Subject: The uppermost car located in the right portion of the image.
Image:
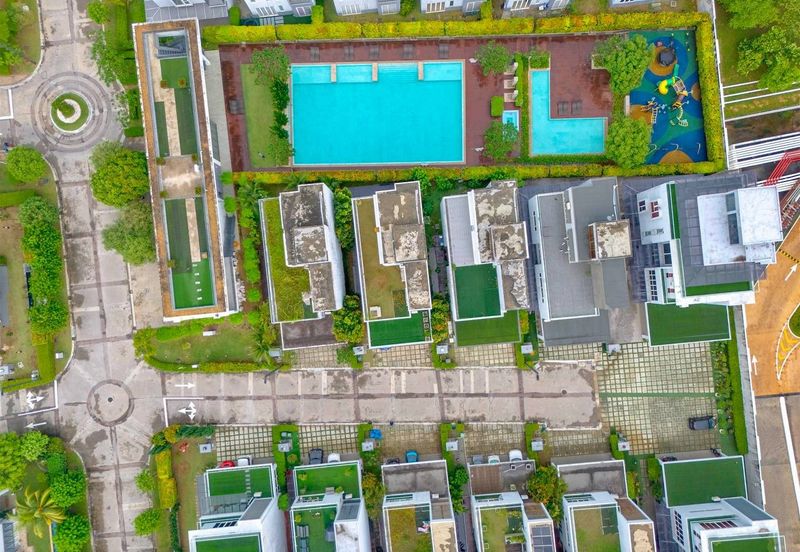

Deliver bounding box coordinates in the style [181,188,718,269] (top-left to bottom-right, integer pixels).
[688,415,716,430]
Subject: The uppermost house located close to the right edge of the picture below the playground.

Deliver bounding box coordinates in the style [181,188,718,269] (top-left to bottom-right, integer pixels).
[635,170,783,347]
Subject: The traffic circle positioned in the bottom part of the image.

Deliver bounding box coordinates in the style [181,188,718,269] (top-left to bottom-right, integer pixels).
[86,379,134,426]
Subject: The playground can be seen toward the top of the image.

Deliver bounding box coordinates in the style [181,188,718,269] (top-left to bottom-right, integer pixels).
[624,30,701,166]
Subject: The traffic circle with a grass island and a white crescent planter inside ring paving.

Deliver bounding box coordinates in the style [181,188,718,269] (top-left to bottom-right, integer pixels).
[32,73,109,149]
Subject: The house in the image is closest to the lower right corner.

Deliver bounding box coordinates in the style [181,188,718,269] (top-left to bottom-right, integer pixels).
[652,451,785,552]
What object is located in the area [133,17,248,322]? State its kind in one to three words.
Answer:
building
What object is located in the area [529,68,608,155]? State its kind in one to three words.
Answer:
swimming pool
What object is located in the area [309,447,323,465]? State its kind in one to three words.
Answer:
car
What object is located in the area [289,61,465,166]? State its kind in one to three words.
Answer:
swimming pool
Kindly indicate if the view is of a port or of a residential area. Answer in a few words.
residential area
